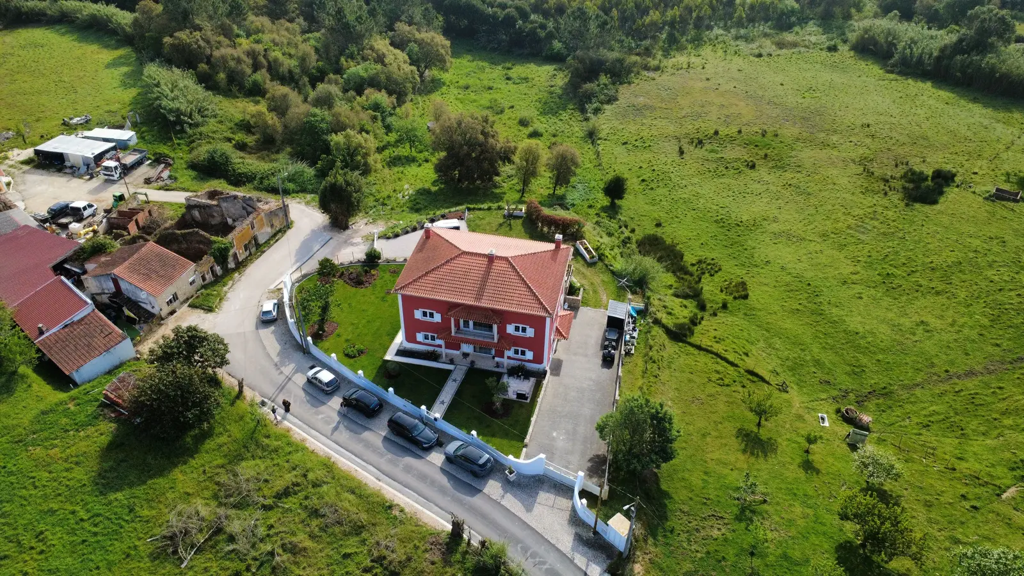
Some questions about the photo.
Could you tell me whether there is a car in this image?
Yes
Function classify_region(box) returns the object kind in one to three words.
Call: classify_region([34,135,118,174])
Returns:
shed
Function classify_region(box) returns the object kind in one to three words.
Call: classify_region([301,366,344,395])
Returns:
car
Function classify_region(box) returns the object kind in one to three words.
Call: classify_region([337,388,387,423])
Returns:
car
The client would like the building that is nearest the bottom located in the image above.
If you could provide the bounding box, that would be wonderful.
[607,511,630,550]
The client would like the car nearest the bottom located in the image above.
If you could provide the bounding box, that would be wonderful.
[440,441,498,482]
